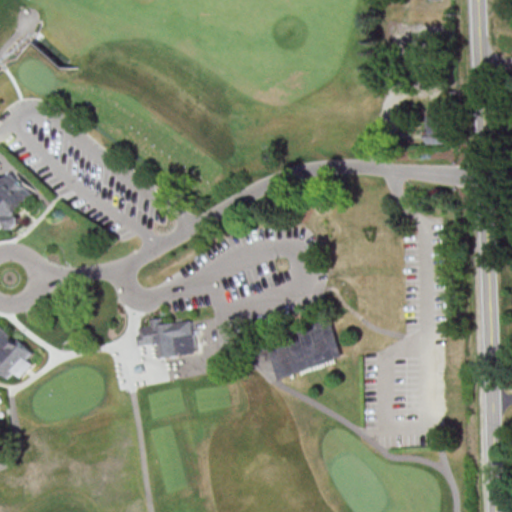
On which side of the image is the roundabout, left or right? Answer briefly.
left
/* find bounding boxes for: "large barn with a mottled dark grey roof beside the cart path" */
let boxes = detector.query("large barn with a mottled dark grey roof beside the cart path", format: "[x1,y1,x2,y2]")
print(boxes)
[271,326,340,378]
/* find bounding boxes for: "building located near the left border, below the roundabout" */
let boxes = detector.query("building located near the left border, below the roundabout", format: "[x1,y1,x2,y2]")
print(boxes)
[0,332,30,380]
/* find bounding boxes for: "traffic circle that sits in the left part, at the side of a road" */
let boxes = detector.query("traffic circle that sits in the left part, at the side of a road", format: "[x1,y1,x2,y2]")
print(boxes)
[0,242,68,322]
